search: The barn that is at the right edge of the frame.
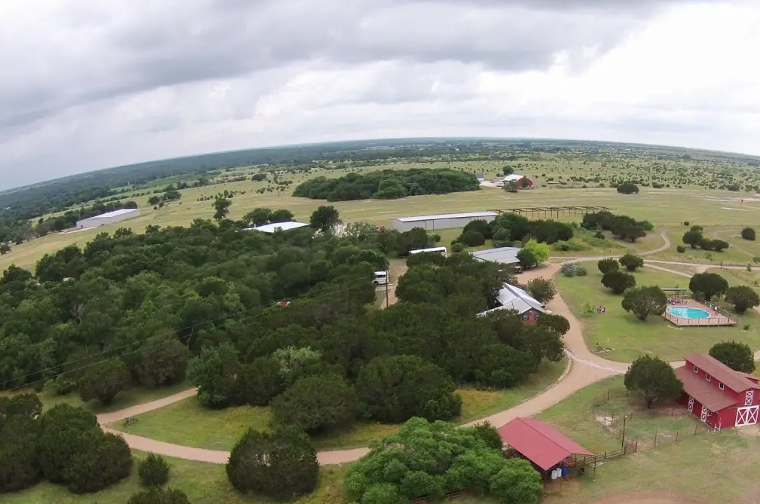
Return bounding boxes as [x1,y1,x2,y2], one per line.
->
[665,351,760,429]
